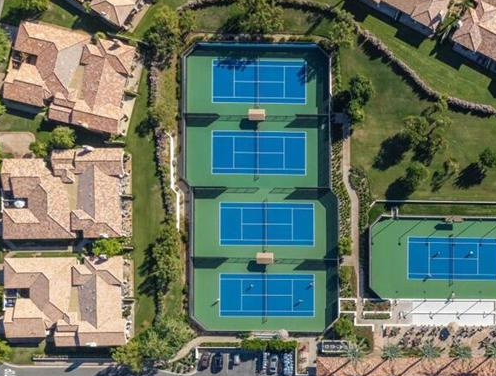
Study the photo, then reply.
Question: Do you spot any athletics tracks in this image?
No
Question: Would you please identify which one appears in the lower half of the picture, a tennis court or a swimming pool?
tennis court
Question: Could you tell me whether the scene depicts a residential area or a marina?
residential area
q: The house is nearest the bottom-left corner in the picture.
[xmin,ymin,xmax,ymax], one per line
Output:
[0,256,130,346]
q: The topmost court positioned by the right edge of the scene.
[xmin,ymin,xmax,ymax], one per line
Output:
[373,218,496,300]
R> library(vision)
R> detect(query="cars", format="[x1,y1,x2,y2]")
[213,352,223,372]
[199,352,209,370]
[269,353,278,371]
